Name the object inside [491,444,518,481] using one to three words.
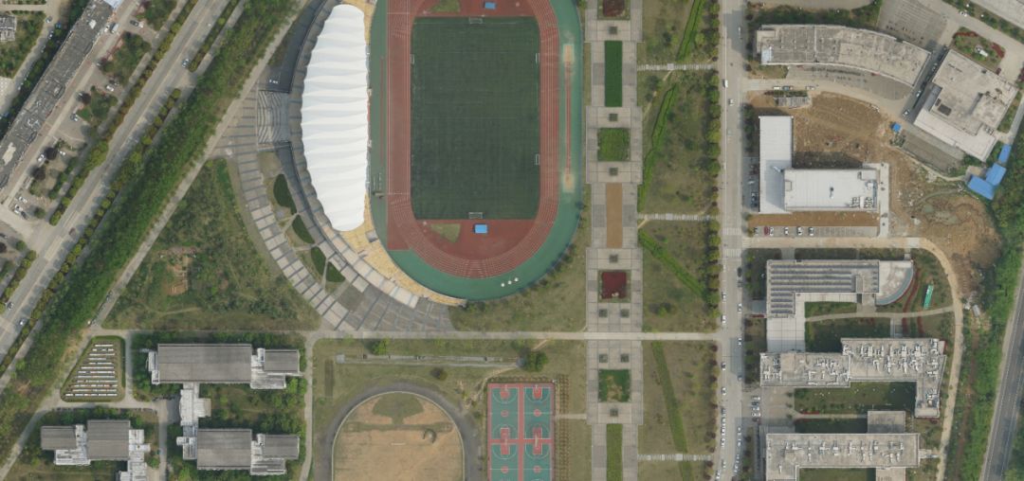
basketball court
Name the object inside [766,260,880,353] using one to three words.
building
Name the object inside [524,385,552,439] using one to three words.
basketball court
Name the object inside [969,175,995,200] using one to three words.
shed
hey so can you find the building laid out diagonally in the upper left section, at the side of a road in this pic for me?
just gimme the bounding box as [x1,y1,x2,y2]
[0,0,123,188]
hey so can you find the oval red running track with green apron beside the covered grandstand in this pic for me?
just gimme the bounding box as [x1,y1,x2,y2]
[370,0,582,301]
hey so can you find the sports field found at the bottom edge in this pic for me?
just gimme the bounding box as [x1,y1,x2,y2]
[314,381,482,481]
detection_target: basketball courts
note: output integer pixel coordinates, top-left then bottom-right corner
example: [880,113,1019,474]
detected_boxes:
[491,385,518,439]
[491,444,518,481]
[524,444,552,481]
[524,385,552,439]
